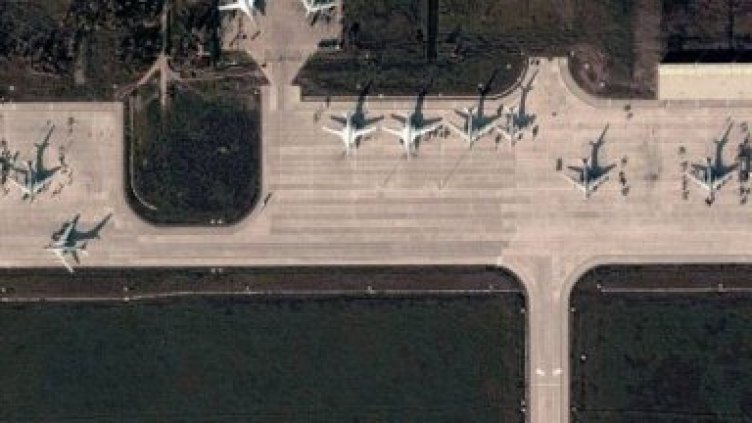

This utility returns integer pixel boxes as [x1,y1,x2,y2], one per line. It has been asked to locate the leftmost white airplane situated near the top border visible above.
[215,0,253,24]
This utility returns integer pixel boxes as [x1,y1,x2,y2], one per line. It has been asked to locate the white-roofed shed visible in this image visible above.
[658,63,752,99]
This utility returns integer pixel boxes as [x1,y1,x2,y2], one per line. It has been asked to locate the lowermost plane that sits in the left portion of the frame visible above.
[44,224,87,270]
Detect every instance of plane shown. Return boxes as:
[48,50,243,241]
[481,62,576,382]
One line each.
[8,156,54,199]
[382,108,437,159]
[44,224,87,270]
[302,0,339,18]
[322,106,377,157]
[446,105,496,150]
[687,155,734,200]
[563,156,610,198]
[215,0,253,24]
[496,107,529,148]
